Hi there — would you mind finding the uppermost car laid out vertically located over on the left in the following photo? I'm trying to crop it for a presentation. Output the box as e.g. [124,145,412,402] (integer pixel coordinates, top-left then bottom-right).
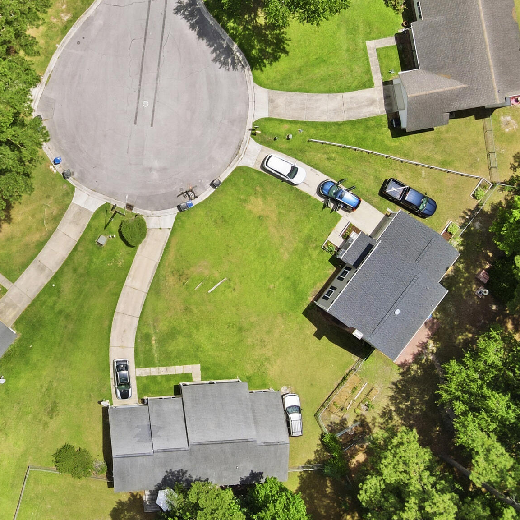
[112,356,133,401]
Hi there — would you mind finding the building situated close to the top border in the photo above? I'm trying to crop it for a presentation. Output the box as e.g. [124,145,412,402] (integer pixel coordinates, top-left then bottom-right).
[389,0,520,132]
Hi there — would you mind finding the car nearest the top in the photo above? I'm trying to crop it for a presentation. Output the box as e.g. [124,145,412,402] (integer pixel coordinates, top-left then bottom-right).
[260,153,305,185]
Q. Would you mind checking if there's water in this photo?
No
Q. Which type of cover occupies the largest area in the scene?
grass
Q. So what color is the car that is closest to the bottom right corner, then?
white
